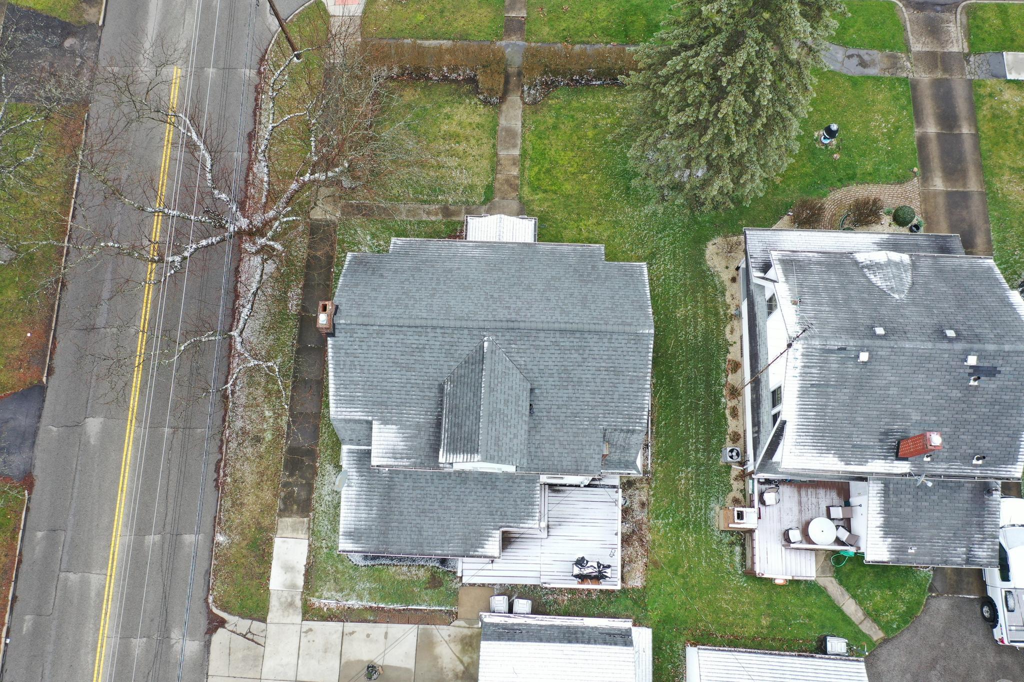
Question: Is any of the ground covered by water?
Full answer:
No, there's no water in this view.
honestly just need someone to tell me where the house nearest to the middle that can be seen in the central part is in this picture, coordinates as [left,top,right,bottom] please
[313,211,654,564]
